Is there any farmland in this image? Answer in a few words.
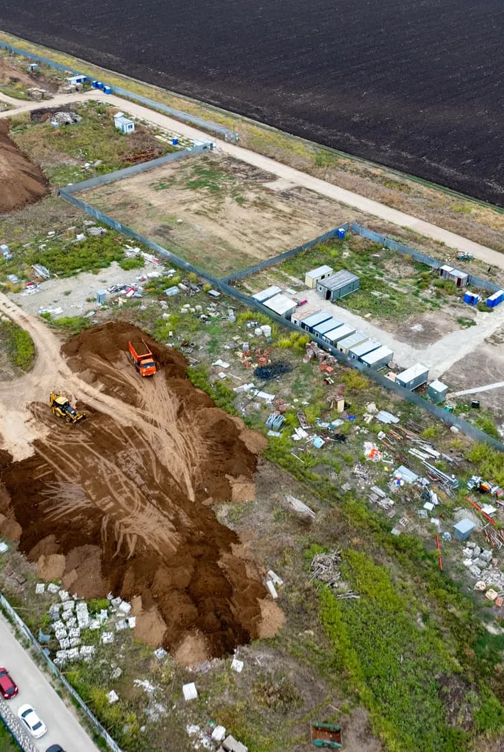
Yes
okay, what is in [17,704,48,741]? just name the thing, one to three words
car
